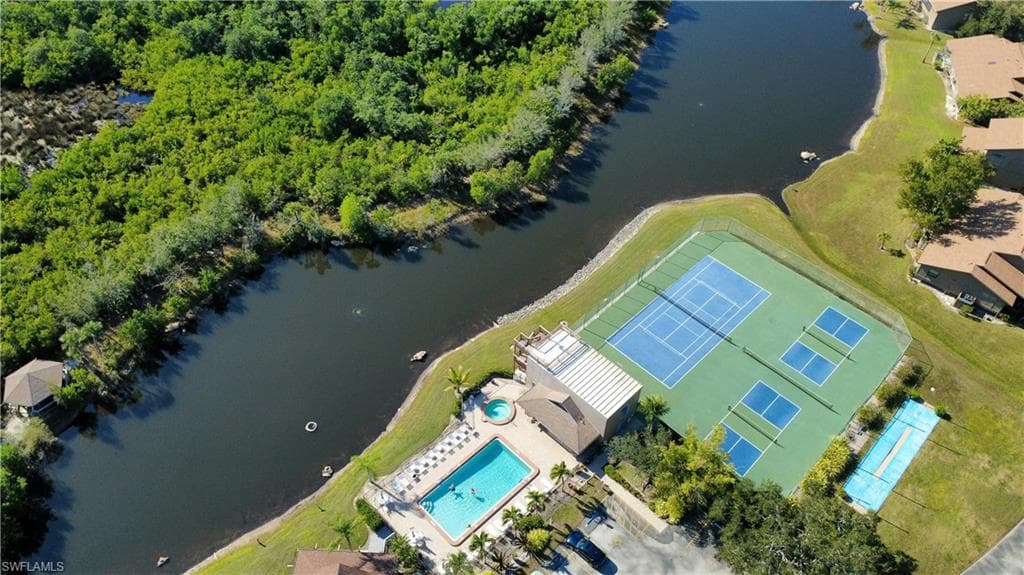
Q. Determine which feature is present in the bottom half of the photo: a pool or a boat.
pool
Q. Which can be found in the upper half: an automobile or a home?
home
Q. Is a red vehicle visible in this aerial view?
No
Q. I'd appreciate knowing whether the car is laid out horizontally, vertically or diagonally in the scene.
diagonally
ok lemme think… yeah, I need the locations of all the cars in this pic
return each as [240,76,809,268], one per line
[561,536,607,574]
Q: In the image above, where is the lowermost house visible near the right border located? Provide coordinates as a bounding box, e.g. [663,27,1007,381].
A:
[921,189,1024,314]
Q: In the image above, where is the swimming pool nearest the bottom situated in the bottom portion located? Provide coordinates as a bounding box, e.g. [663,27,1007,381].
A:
[419,436,536,543]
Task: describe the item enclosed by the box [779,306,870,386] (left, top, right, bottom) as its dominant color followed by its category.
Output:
blue sports court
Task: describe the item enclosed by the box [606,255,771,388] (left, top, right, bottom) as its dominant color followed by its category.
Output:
blue tennis court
